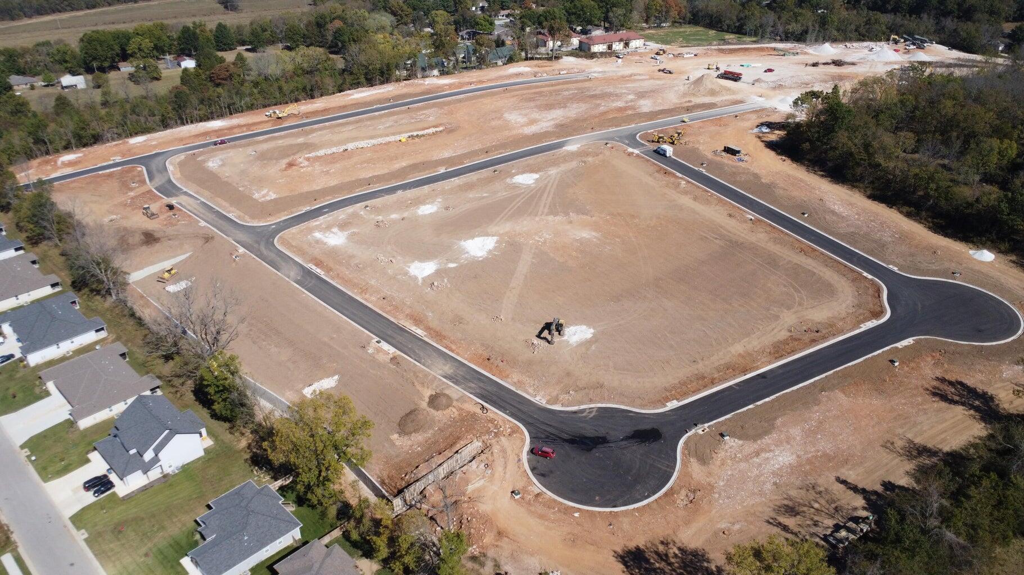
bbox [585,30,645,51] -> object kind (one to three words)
building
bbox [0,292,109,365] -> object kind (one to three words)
house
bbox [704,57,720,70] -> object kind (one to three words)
vehicle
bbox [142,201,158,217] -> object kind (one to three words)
work vehicle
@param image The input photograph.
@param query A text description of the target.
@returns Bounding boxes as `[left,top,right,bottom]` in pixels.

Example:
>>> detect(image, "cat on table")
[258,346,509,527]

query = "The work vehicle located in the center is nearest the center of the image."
[550,318,572,348]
